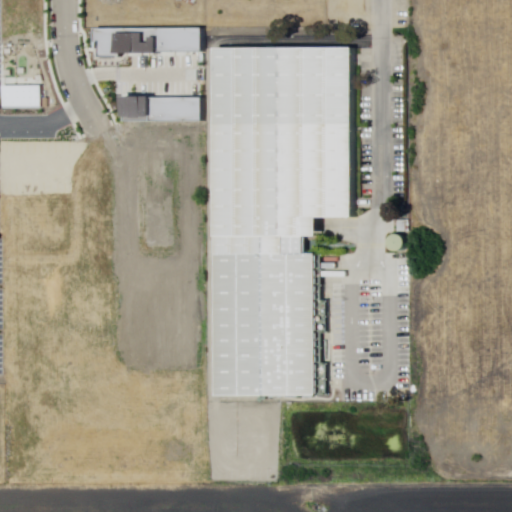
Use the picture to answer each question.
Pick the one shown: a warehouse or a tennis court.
warehouse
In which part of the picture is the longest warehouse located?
center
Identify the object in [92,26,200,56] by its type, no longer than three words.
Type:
building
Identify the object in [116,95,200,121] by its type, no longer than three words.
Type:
building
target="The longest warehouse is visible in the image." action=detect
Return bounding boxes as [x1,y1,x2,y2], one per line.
[209,46,350,397]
